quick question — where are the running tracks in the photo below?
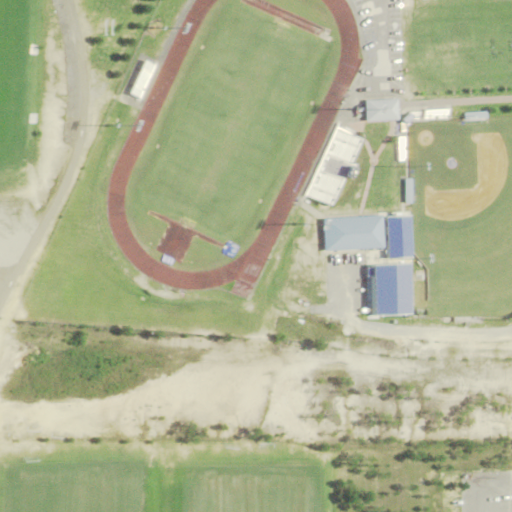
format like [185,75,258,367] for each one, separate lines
[109,0,363,299]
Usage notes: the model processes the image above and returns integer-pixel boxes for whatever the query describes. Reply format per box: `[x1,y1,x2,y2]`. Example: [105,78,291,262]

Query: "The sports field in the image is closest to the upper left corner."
[0,0,30,163]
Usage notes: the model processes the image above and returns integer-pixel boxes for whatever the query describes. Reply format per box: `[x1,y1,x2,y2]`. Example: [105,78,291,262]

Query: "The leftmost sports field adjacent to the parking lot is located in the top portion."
[125,0,341,272]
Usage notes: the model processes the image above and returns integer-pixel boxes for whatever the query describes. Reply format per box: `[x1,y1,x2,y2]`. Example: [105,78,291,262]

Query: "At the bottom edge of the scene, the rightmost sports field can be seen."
[182,458,330,512]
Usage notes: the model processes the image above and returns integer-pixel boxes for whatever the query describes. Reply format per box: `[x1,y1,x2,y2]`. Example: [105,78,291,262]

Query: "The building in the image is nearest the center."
[323,216,386,250]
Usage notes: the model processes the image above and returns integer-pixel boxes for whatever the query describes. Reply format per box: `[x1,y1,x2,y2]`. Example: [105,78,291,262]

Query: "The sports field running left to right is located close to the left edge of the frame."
[0,456,148,512]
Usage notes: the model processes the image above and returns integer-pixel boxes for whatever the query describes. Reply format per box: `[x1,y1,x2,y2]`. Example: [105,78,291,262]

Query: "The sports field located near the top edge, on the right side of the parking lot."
[412,0,512,86]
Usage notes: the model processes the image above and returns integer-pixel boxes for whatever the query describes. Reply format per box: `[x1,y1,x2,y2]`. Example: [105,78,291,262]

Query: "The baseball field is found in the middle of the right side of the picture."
[408,114,512,318]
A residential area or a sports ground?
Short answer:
sports ground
